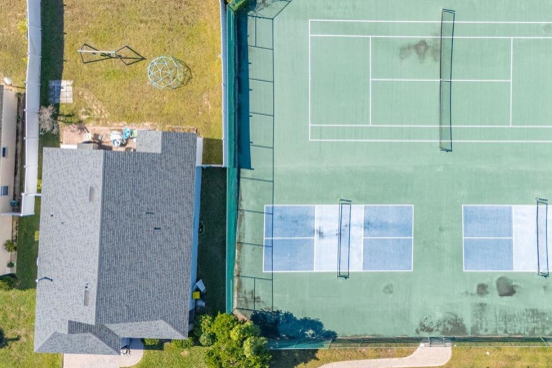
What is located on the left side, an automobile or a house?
house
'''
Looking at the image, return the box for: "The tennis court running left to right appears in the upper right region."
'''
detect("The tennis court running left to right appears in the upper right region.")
[309,19,552,141]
